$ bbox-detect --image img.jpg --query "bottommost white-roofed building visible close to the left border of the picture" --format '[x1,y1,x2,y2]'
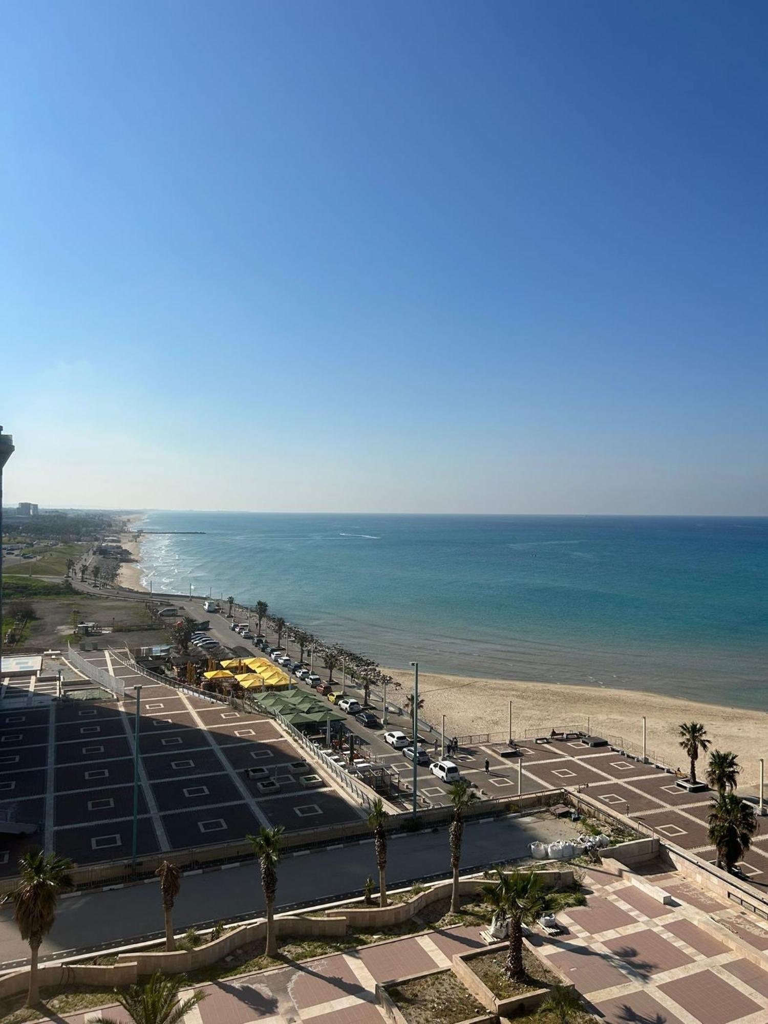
[0,654,42,688]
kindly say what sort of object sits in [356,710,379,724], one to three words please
car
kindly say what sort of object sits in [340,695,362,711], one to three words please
car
